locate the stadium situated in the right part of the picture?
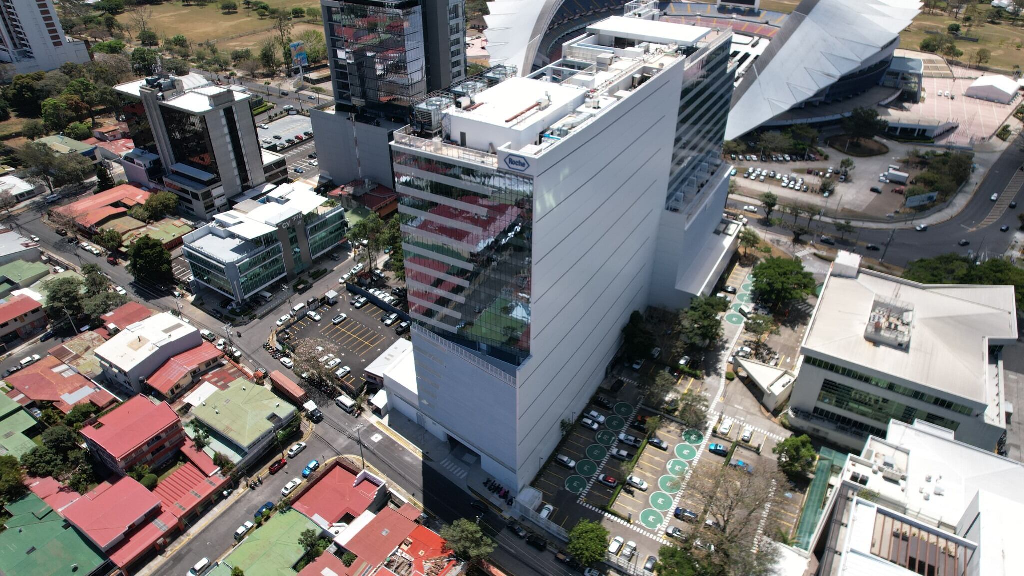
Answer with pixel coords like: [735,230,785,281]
[496,0,930,140]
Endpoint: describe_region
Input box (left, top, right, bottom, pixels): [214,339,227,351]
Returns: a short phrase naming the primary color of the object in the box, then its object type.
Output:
white vehicle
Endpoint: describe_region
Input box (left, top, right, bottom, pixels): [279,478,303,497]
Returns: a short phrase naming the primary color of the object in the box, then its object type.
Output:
white car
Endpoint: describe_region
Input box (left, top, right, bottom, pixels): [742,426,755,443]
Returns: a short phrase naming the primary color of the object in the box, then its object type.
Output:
white vehicle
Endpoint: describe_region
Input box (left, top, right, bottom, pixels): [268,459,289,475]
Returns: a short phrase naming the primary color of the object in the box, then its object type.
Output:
red car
